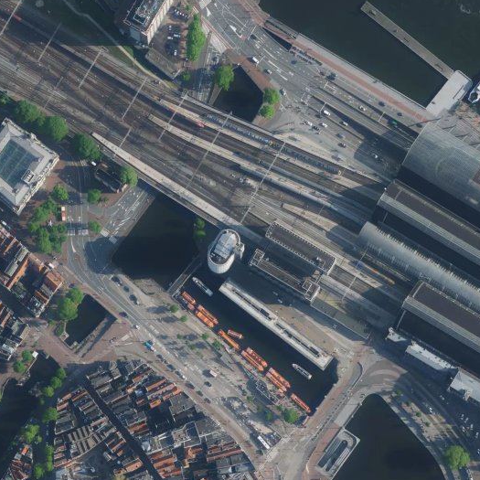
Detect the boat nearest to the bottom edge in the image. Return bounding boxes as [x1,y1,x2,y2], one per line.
[290,393,311,413]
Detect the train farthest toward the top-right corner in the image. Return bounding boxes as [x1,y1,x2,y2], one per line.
[274,143,339,174]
